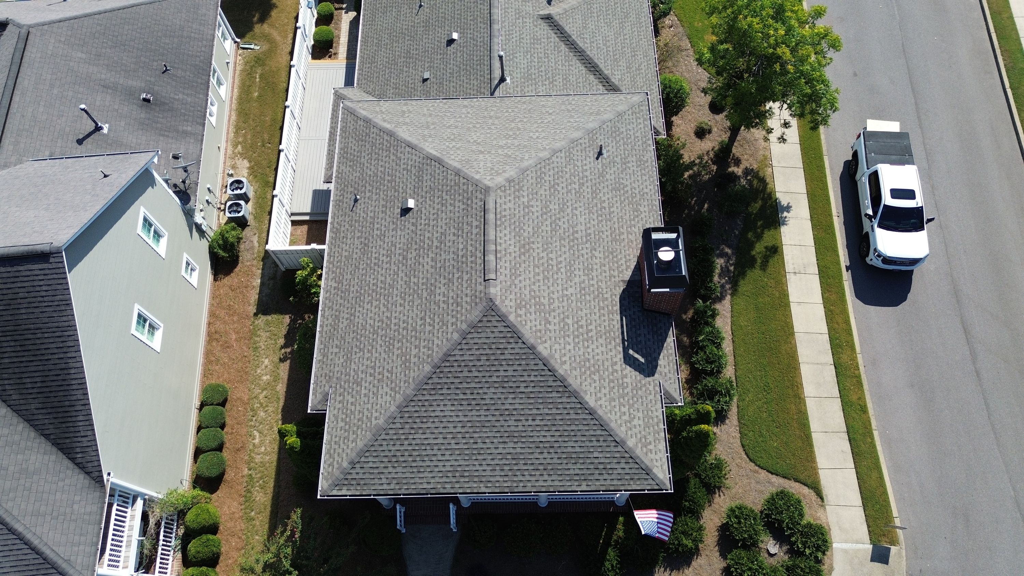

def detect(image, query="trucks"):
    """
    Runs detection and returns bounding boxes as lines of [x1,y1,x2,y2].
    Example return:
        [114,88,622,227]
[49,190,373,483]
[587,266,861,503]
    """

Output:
[849,126,935,272]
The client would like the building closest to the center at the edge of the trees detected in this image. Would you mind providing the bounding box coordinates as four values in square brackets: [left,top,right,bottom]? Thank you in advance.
[308,0,690,535]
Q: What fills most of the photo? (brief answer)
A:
buildings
